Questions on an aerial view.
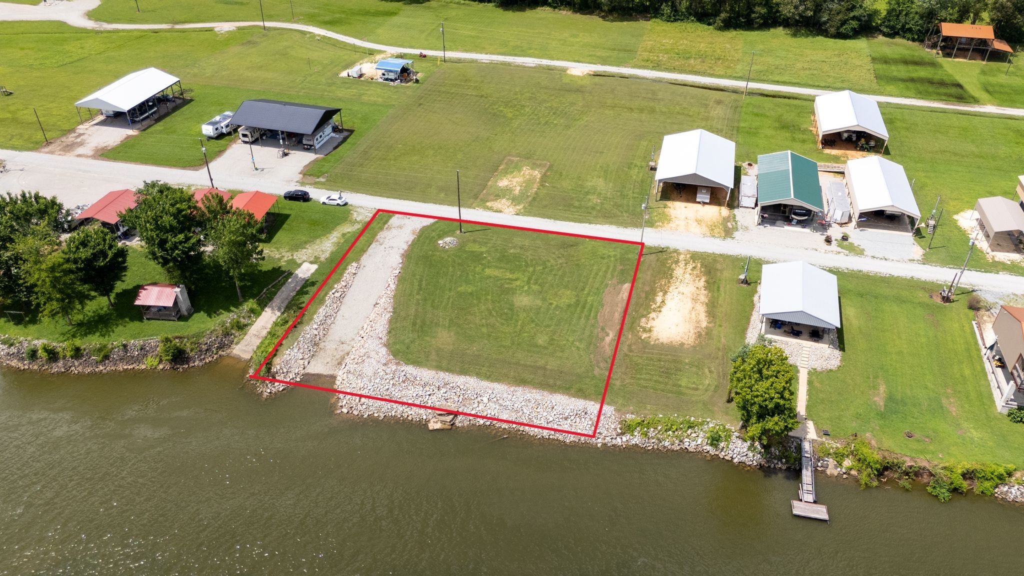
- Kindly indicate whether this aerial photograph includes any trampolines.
No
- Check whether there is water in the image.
Yes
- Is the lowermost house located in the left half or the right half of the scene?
right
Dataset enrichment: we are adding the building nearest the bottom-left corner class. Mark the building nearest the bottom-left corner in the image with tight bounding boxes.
[136,283,194,325]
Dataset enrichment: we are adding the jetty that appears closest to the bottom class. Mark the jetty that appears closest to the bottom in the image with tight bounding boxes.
[791,500,828,523]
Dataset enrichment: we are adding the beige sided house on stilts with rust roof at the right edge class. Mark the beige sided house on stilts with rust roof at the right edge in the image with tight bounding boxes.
[988,308,1024,390]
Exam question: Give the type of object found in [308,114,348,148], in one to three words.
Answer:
trailer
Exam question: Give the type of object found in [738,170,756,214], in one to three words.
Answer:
trailer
